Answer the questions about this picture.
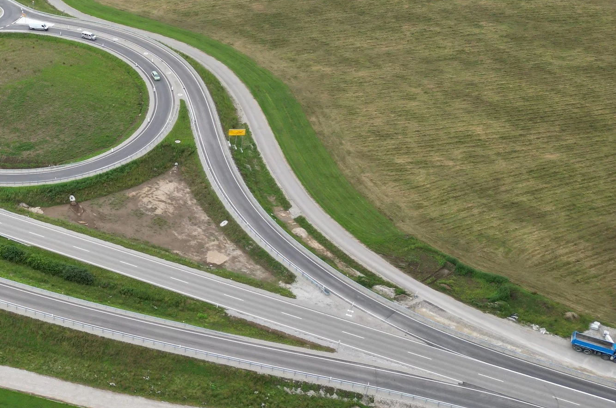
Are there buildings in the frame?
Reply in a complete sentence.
No, the frame has no building in it.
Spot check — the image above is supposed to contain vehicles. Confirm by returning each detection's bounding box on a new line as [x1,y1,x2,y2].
[28,19,49,29]
[576,332,616,362]
[81,29,96,40]
[151,69,162,78]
